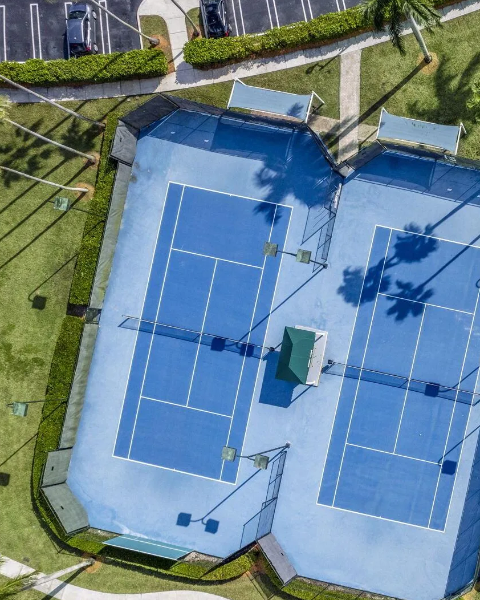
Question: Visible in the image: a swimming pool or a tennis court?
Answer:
tennis court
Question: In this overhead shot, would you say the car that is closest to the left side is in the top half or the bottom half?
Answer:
top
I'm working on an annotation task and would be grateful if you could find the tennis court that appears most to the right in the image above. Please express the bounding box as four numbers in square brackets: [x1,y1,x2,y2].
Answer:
[271,151,480,600]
